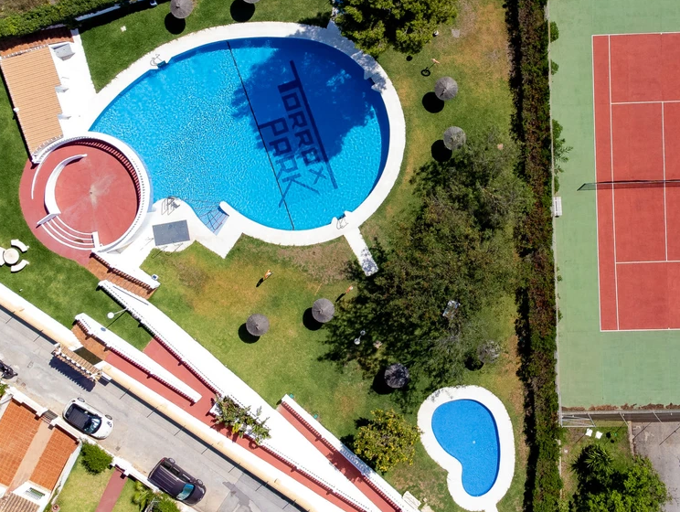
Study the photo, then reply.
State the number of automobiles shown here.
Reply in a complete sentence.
There are 2 automobiles in the image.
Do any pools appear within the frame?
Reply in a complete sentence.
Yes, a pool can be made out from above.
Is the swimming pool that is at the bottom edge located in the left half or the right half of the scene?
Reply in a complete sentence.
You can find the swimming pool that is at the bottom edge on the right side of the picture.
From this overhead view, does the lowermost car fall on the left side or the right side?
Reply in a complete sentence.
The lowermost car is on the left side of the image.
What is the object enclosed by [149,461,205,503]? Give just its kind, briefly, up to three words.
car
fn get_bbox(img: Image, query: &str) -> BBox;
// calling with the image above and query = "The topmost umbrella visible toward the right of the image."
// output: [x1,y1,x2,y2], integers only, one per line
[433,76,457,102]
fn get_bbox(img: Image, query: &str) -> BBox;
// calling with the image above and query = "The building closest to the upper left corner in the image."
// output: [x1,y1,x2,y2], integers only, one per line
[0,28,86,156]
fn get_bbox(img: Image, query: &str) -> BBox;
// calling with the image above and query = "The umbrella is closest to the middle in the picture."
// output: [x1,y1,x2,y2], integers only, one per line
[309,297,336,321]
